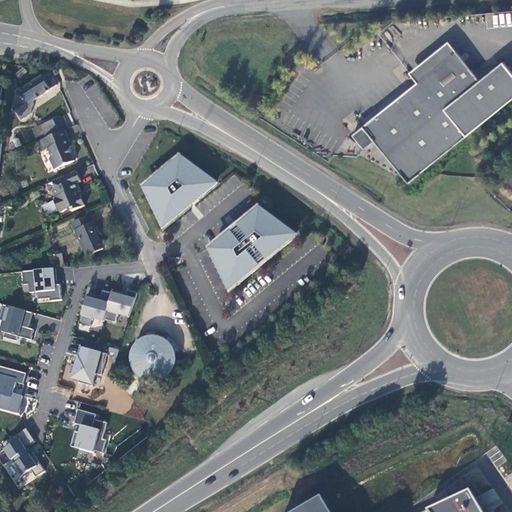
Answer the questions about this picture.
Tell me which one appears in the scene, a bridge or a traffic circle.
traffic circle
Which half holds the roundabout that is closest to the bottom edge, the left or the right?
right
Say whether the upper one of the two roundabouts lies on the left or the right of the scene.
left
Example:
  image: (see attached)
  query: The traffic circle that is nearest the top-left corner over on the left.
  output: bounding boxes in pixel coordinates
[110,41,188,121]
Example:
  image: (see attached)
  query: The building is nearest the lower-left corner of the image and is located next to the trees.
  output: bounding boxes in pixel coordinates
[5,430,48,490]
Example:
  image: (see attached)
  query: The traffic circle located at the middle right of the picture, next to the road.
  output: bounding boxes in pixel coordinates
[377,210,512,396]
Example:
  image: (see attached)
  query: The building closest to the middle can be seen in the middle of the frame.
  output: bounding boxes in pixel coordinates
[206,204,296,292]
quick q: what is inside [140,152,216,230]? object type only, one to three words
building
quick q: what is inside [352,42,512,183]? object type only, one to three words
building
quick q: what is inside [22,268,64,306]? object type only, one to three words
house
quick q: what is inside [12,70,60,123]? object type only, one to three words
house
